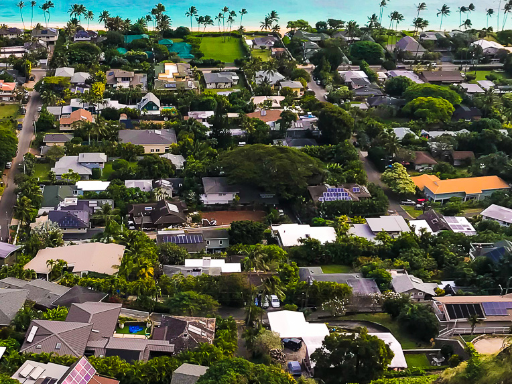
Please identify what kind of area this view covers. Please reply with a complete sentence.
This looks like a residential area.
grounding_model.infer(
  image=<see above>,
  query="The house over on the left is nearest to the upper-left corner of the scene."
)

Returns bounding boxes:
[0,26,29,45]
